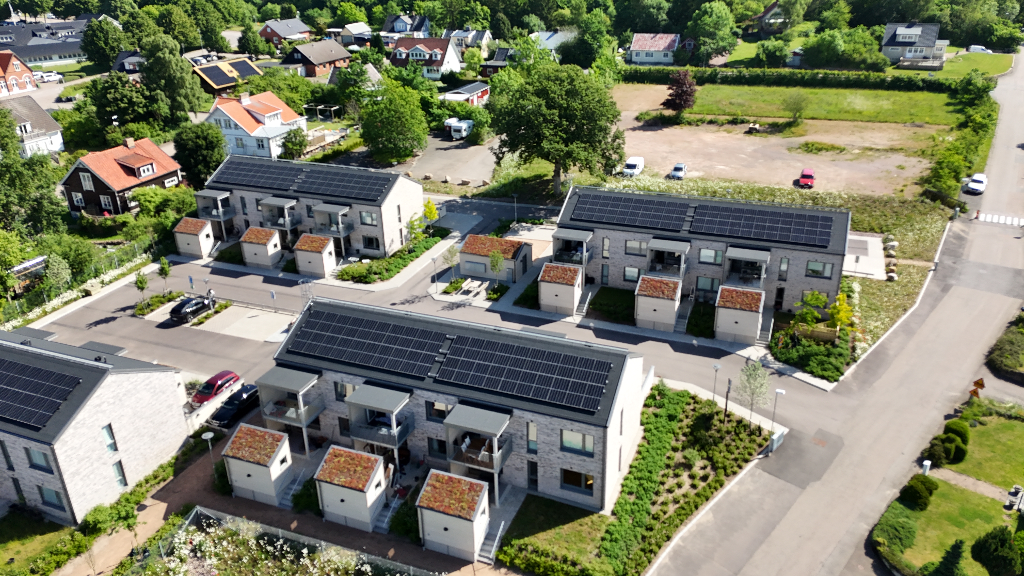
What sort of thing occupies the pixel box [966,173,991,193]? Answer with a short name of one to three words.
car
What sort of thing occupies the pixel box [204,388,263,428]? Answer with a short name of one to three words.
car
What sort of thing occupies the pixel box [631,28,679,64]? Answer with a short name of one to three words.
house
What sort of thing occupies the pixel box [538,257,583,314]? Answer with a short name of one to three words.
shed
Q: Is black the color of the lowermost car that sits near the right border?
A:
No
